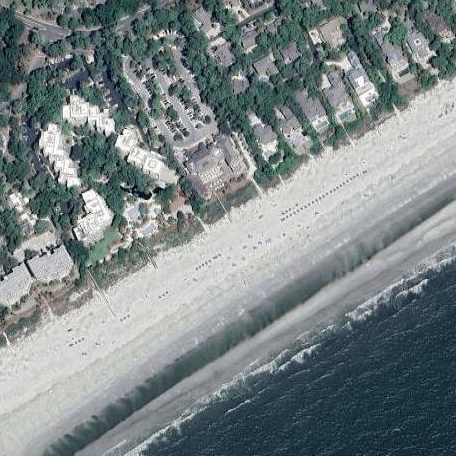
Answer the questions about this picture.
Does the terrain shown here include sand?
Yes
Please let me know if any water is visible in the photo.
Yes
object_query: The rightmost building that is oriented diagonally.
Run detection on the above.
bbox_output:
[425,6,453,39]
